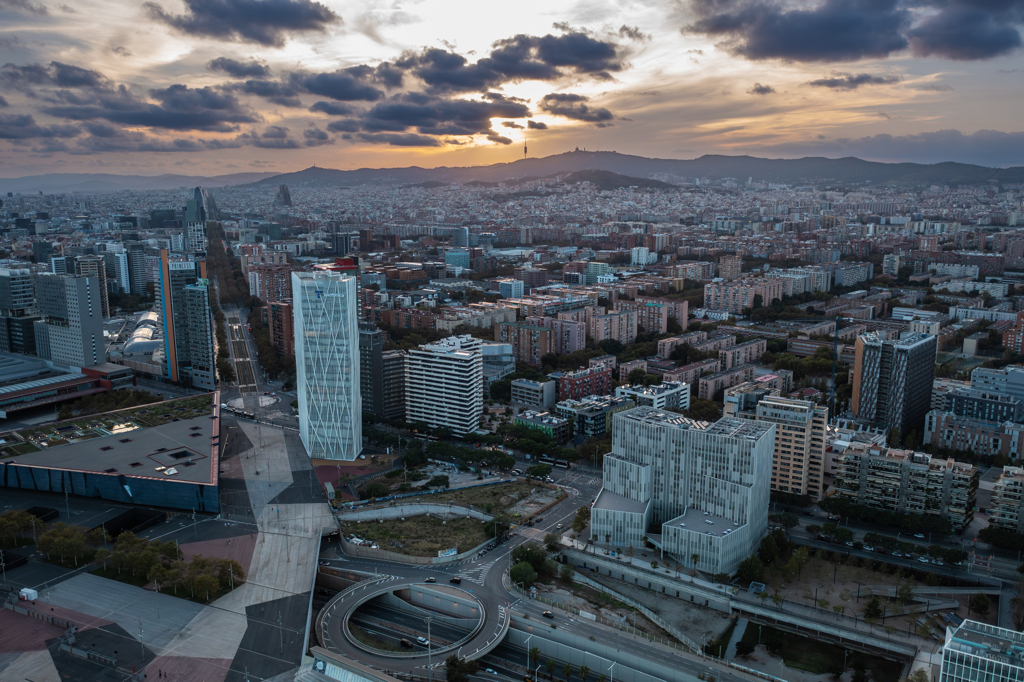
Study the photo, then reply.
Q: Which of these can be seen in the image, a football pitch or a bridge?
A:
bridge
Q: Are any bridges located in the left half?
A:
No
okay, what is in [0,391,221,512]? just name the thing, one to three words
building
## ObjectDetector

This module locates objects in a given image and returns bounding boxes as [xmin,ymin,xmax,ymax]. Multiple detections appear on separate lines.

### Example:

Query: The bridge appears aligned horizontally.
[730,582,936,656]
